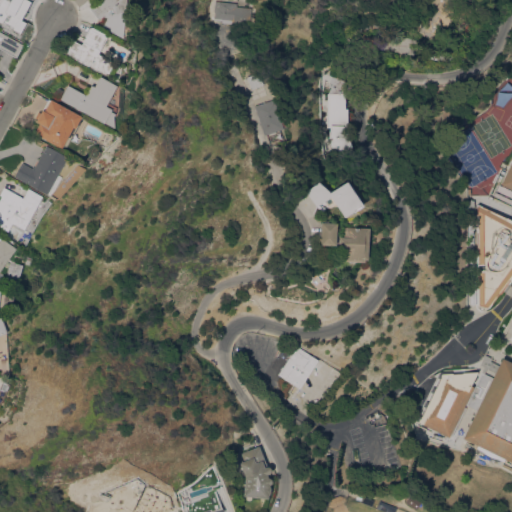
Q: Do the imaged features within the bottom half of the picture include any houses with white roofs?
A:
Yes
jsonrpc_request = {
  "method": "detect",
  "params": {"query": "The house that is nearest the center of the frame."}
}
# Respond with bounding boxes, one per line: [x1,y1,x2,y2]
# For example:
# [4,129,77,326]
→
[322,224,338,246]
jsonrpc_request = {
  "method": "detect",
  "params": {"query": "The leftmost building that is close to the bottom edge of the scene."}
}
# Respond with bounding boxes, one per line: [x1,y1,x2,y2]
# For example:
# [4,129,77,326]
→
[241,446,273,498]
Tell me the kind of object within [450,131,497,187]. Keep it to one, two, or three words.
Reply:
basketball court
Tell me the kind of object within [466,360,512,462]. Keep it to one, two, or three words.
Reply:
building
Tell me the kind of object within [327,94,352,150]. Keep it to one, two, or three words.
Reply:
house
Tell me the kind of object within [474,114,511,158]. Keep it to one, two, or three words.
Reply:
basketball court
